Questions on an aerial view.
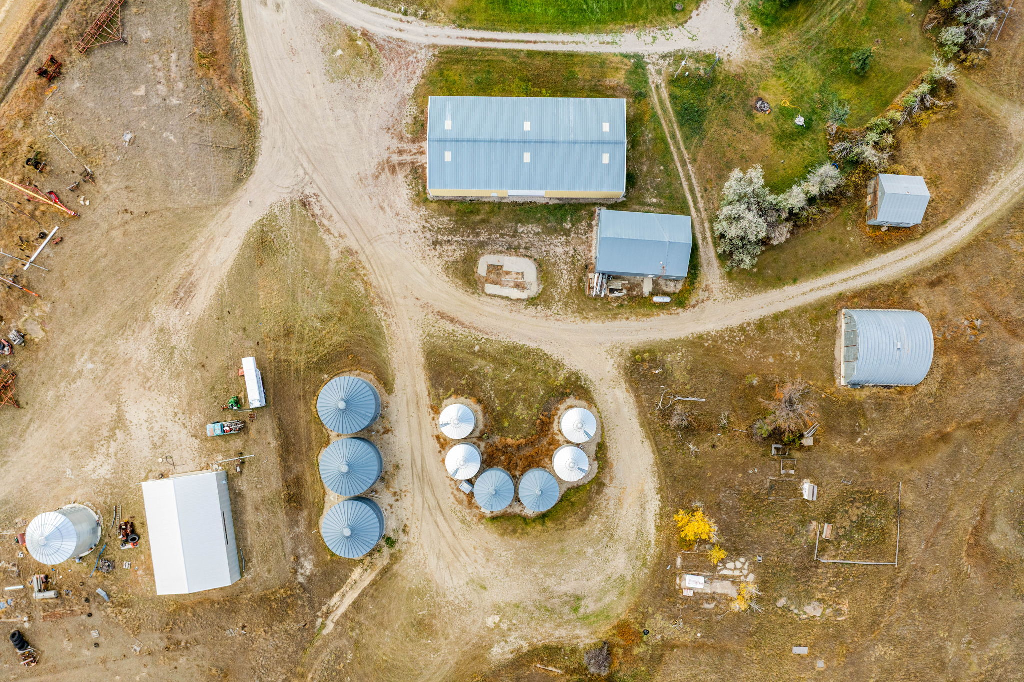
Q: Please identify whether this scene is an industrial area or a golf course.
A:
industrial area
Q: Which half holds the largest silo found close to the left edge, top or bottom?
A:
bottom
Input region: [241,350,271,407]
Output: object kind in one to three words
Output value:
trailer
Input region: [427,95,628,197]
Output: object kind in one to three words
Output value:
shed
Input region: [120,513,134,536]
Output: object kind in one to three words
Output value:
work vehicle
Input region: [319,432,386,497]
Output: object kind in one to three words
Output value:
silo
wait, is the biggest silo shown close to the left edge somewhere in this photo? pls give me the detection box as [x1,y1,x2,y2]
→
[26,502,103,565]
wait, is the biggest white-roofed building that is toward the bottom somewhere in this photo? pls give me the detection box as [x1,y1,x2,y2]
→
[136,462,240,596]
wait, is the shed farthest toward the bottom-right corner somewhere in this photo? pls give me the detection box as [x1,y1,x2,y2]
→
[842,308,935,386]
